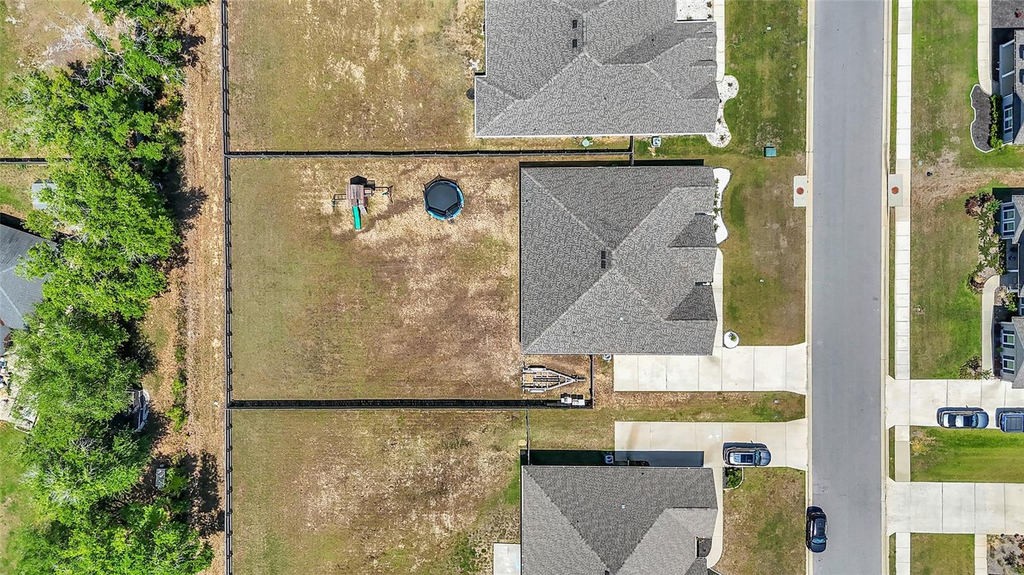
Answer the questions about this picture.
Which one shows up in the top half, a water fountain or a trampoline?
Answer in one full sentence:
Visible in the top half is a trampoline.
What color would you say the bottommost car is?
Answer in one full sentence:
From above, the bottommost car appears black.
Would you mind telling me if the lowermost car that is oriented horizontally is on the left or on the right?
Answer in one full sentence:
The lowermost car that is oriented horizontally appears in the right half of the scene.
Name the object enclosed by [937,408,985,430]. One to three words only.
car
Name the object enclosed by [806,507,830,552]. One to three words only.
car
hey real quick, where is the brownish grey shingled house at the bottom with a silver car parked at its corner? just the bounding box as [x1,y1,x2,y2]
[521,463,717,575]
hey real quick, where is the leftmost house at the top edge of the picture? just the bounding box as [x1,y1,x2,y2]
[474,0,719,137]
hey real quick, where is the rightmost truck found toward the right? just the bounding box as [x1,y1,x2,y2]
[995,410,1024,431]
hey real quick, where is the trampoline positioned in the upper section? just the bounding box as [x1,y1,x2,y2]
[423,177,464,224]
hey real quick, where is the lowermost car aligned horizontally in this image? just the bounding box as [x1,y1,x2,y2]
[723,445,770,468]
